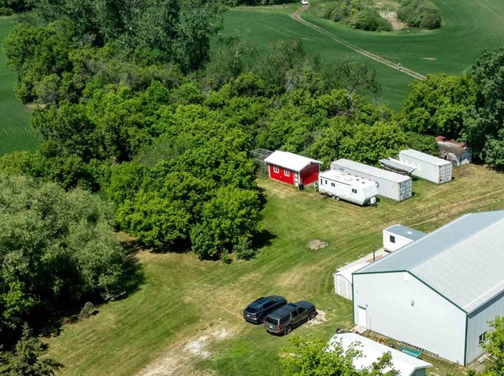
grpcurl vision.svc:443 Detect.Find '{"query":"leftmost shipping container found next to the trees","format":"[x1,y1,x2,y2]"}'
[332,158,412,200]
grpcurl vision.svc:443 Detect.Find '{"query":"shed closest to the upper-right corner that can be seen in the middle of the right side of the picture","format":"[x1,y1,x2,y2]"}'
[424,132,474,166]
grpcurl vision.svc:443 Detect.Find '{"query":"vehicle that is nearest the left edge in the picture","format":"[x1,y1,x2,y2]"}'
[244,295,292,325]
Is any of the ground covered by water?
No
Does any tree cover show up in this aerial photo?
Yes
